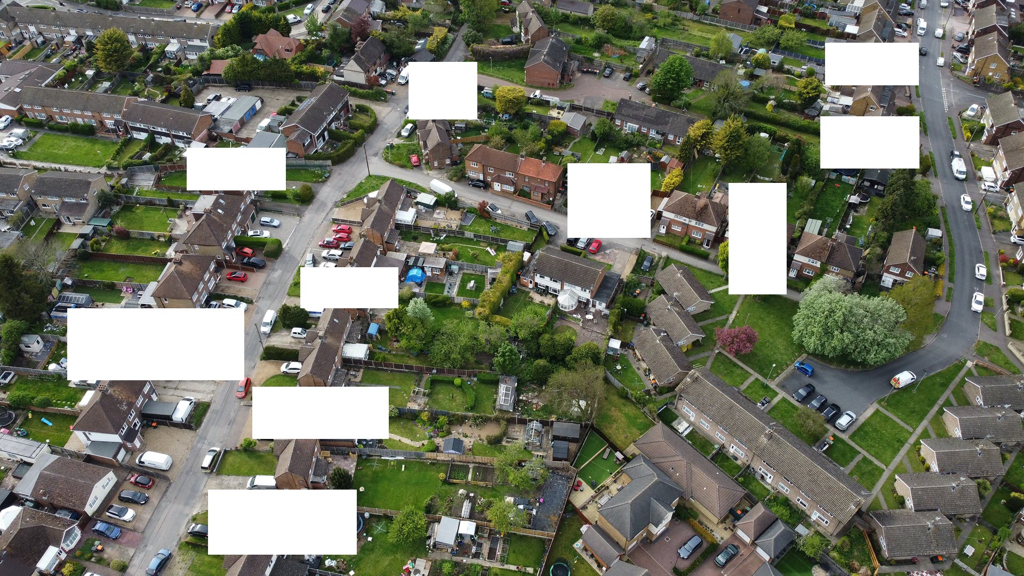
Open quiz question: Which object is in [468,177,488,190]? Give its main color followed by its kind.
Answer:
black vehicle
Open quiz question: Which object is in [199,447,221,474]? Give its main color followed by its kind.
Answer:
white car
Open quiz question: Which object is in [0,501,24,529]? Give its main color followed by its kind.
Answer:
white gazebo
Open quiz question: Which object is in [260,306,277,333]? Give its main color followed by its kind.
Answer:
white vehicle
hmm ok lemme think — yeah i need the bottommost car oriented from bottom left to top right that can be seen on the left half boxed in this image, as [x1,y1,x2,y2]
[143,547,174,576]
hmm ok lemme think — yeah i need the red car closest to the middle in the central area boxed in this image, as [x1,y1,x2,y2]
[588,239,603,255]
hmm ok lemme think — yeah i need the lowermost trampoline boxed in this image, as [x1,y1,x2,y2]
[550,556,571,576]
